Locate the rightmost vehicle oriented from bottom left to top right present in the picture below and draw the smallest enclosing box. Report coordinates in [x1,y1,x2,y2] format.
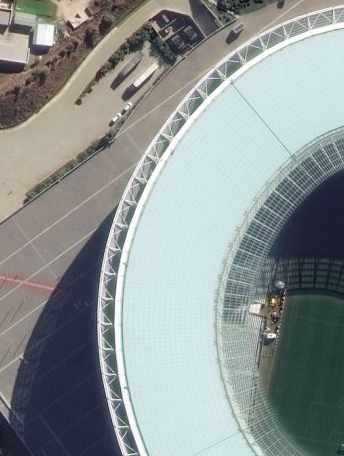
[133,62,158,87]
